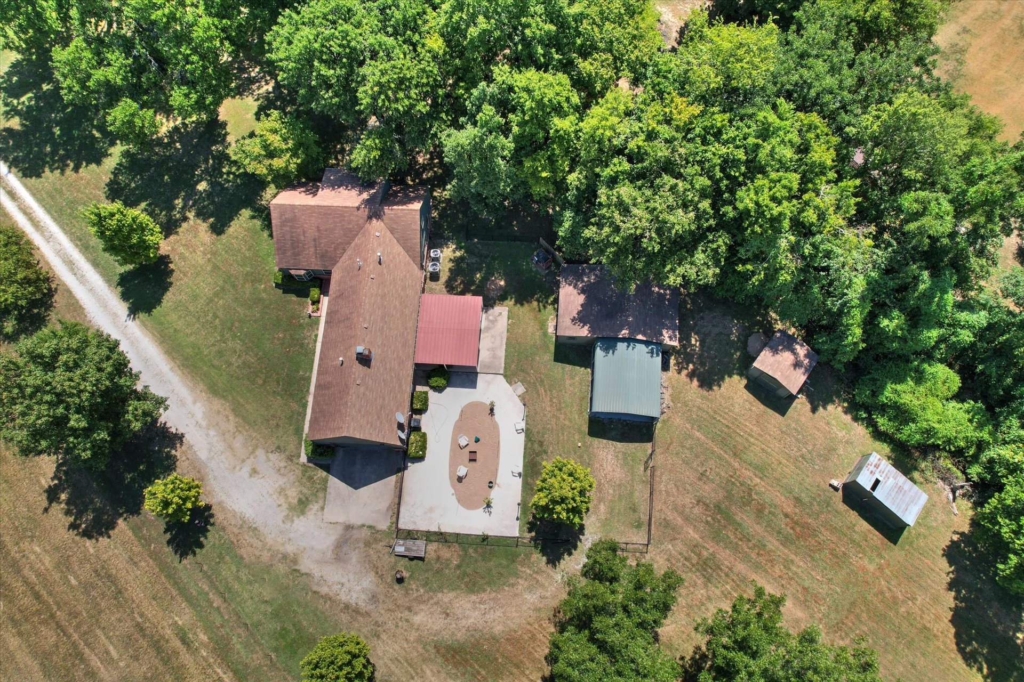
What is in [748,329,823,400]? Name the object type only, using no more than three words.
shed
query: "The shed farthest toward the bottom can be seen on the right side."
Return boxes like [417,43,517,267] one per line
[843,453,935,528]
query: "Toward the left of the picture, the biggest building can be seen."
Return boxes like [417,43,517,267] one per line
[270,167,430,449]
